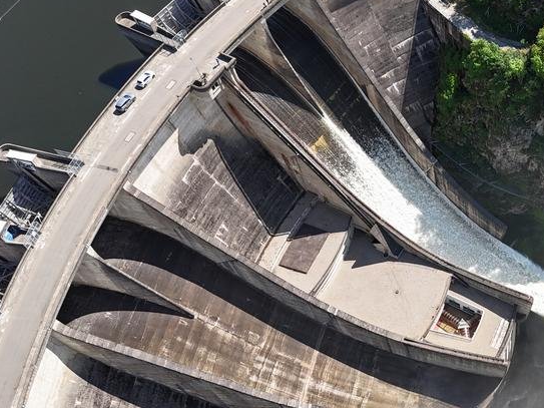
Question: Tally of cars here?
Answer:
two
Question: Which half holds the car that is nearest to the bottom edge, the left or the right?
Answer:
left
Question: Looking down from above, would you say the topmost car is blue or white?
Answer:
white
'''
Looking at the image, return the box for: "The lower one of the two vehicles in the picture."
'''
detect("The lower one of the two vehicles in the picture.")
[109,92,140,115]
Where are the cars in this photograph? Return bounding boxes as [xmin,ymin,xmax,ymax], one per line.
[109,92,140,115]
[132,69,158,90]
